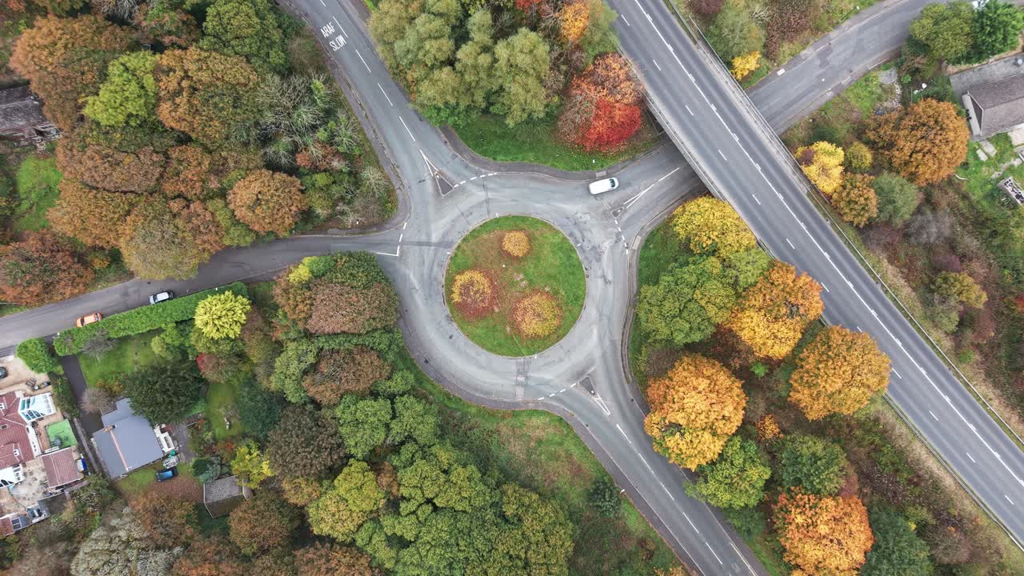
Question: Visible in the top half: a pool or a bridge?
bridge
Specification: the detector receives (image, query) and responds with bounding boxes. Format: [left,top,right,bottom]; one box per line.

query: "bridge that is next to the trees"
[623,20,820,248]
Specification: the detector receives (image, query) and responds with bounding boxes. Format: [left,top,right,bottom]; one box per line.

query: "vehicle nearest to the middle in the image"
[586,176,617,196]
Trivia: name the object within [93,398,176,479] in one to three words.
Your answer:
house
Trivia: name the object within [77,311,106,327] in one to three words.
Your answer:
car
